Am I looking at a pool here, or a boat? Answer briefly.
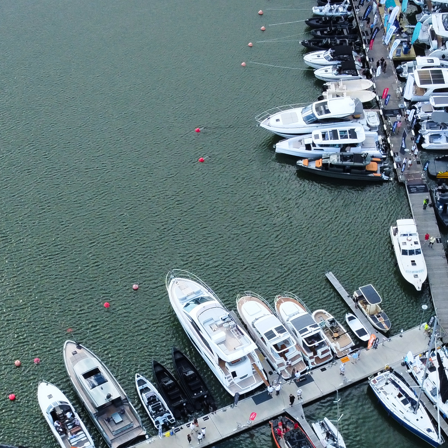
boat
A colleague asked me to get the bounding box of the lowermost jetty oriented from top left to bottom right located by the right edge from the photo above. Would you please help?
[404,373,448,440]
